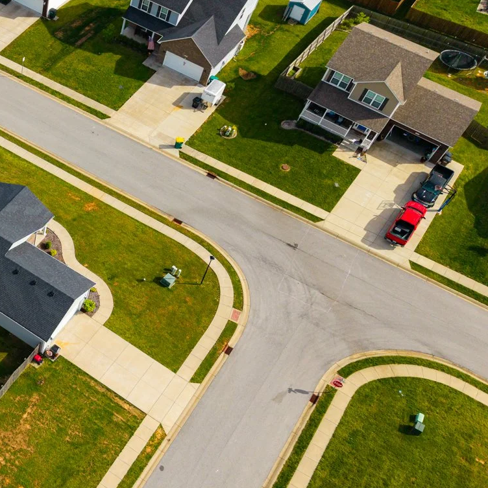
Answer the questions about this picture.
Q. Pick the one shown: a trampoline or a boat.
trampoline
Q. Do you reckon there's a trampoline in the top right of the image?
Yes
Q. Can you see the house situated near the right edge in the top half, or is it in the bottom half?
top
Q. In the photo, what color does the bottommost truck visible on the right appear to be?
red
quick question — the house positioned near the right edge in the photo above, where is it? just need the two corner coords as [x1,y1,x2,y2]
[301,23,481,162]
